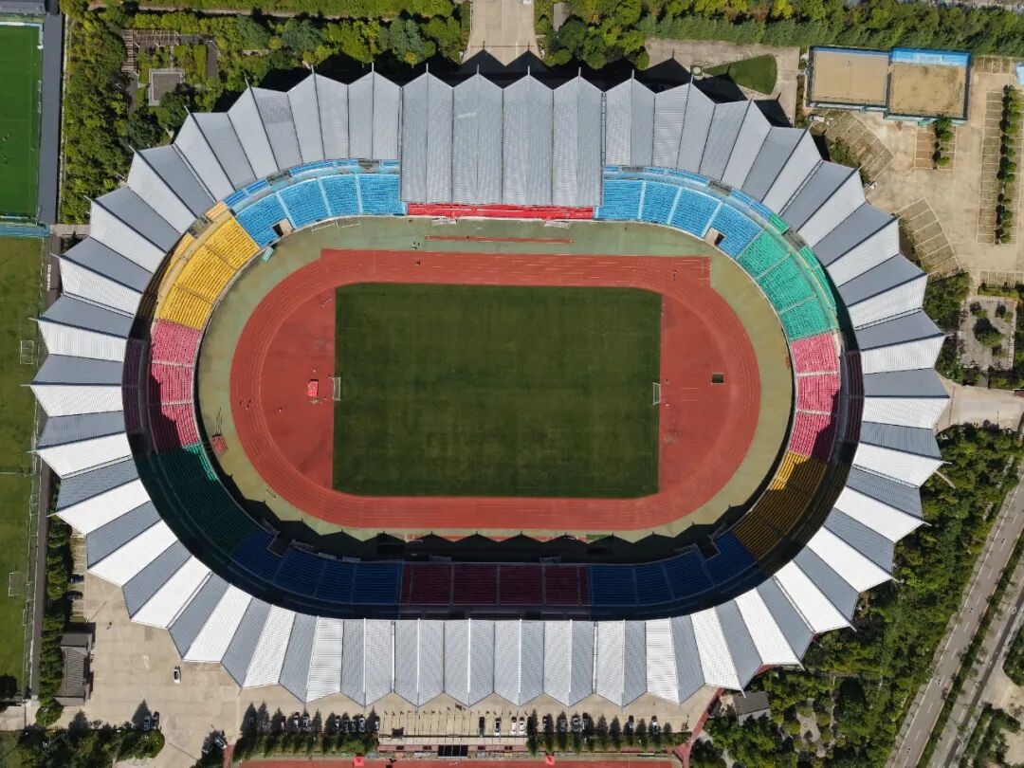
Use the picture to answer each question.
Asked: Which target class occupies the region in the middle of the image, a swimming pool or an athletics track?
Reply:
athletics track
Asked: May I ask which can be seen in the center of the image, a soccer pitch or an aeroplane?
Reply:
soccer pitch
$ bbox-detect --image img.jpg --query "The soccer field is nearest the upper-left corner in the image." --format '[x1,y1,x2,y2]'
[0,26,40,219]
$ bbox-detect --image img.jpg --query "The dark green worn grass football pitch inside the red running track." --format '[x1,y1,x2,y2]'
[333,281,660,499]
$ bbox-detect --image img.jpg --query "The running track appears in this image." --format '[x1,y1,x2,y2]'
[232,247,761,532]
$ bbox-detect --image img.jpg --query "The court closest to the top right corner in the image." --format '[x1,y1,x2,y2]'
[888,49,974,118]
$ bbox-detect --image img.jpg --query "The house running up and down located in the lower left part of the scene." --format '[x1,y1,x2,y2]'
[58,628,96,704]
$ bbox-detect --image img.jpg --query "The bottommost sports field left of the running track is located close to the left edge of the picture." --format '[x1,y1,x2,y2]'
[0,237,43,697]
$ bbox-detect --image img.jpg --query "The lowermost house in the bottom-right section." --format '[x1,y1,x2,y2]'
[729,685,773,725]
